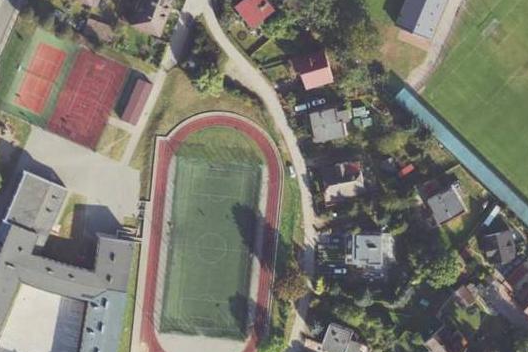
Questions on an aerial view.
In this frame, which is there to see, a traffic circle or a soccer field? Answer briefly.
soccer field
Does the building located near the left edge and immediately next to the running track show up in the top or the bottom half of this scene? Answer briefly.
bottom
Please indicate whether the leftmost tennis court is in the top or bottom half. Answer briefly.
top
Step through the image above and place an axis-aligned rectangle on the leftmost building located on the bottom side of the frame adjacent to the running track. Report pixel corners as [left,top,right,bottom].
[0,171,135,352]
